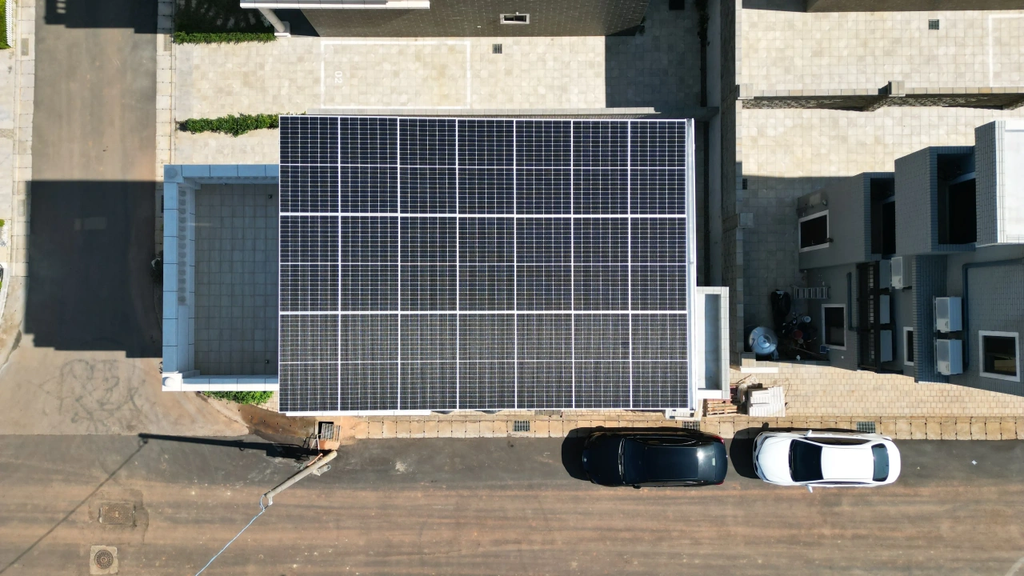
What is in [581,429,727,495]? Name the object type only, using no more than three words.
car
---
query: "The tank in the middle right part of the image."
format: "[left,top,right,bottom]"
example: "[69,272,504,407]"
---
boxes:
[742,326,775,358]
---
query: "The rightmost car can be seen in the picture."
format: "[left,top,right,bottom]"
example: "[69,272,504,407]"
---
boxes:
[752,427,901,494]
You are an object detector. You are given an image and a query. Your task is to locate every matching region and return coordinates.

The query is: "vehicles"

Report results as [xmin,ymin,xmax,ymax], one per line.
[581,429,727,495]
[752,427,901,494]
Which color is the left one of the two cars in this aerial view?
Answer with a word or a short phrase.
black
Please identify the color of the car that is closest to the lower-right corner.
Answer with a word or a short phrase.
white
